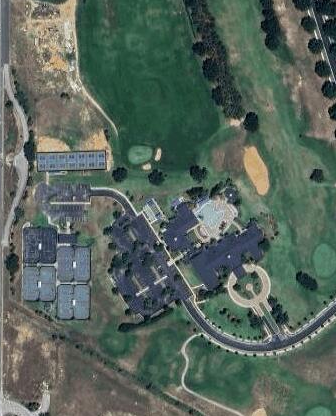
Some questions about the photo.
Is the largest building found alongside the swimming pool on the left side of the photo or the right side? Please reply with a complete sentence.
The largest building found alongside the swimming pool is on the right side of the image.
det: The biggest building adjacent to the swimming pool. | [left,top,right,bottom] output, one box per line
[180,225,269,297]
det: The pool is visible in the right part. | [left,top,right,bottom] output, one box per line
[194,195,236,242]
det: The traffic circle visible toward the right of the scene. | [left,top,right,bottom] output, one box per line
[228,262,271,308]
